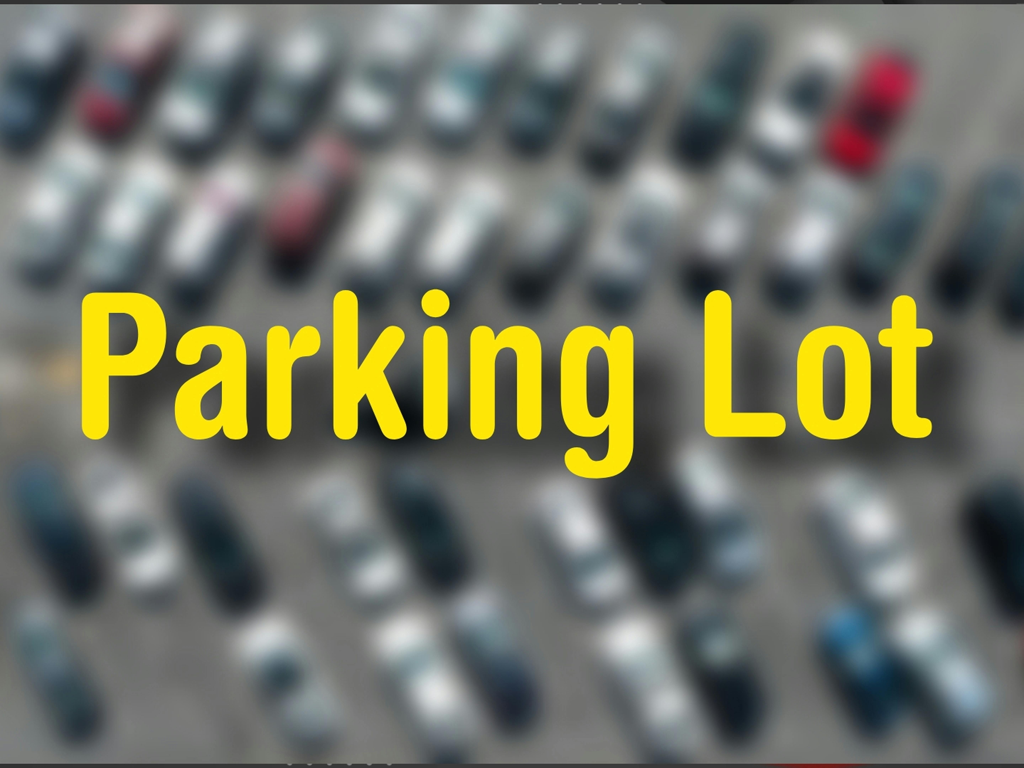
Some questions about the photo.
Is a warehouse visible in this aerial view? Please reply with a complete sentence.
No, the picture doesn't show any warehouse.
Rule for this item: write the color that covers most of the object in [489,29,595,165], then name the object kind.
gray car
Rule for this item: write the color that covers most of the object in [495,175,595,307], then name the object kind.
gray car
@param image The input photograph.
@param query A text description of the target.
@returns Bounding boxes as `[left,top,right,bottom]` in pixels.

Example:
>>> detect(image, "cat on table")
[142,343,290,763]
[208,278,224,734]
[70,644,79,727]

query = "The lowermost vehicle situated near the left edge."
[8,604,113,753]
